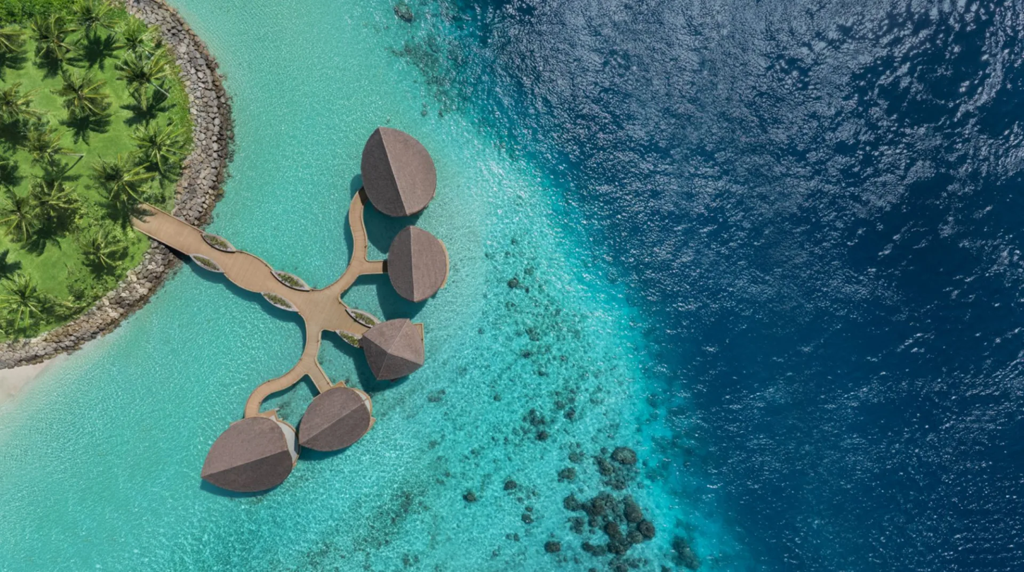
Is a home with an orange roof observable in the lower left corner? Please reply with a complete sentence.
No, looking in the lower left corner, there is no home with an orange roof.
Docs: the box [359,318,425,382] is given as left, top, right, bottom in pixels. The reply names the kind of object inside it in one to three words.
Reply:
house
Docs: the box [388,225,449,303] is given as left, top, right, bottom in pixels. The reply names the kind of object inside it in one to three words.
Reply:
house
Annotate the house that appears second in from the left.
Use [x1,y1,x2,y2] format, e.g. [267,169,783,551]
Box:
[299,382,376,452]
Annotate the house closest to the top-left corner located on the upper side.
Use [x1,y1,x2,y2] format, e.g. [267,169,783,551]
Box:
[361,126,437,216]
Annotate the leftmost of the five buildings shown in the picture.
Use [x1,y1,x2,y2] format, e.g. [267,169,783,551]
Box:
[201,407,301,492]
